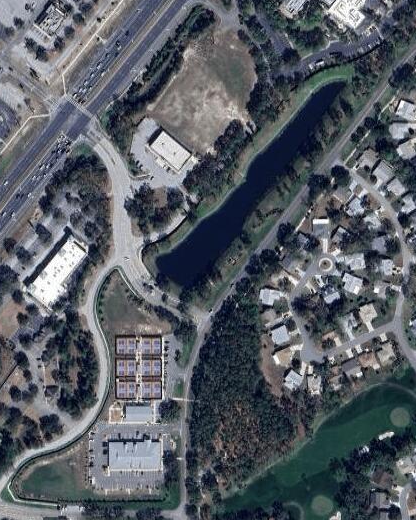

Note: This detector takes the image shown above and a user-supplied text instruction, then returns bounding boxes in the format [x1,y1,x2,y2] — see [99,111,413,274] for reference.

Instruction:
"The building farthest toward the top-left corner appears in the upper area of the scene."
[36,4,64,33]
